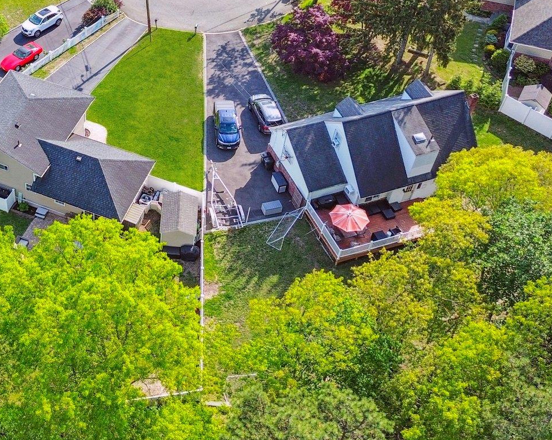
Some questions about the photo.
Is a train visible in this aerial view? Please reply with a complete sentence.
No, the scene contains no train.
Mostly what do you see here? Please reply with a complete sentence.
For the most part, this view shows trees.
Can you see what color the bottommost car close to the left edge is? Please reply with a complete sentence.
From above, the bottommost car close to the left edge appears red.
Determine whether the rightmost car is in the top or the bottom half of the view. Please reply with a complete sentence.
It is in the top half that the rightmost car appears.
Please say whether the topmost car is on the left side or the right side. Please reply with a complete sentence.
The topmost car is on the left side of the image.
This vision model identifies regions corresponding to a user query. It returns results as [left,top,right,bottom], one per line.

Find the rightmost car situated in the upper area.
[253,92,286,135]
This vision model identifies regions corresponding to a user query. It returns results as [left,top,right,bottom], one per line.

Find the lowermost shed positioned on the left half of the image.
[160,191,197,244]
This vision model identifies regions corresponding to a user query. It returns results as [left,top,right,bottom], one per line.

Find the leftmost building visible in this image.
[0,70,159,242]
